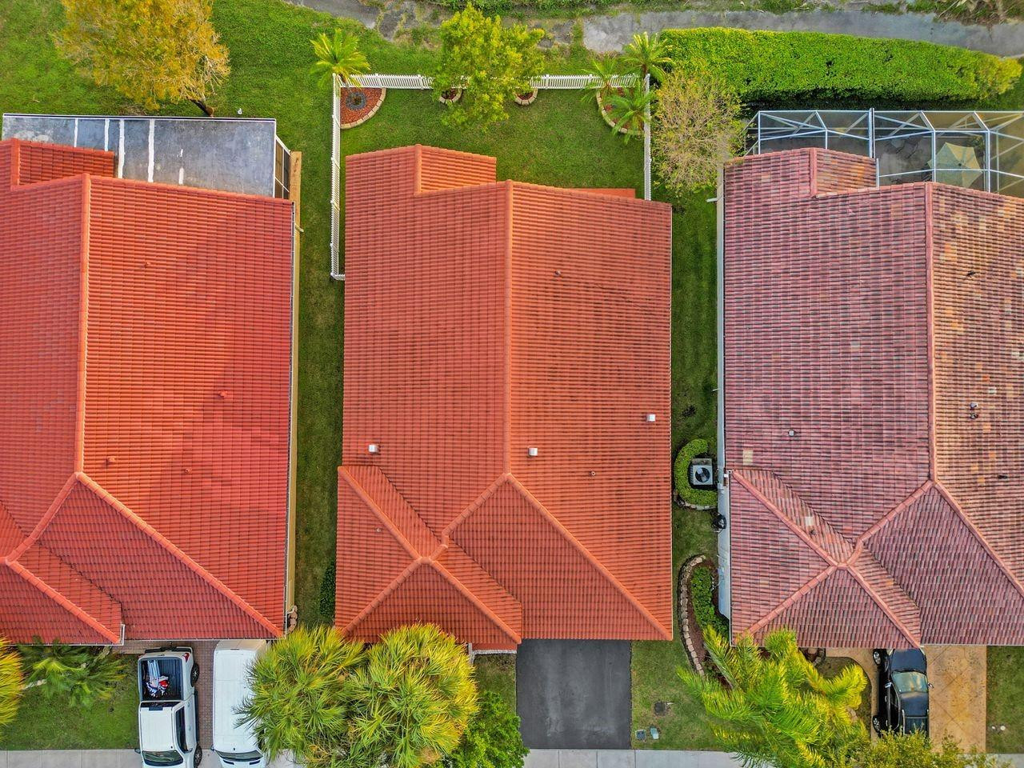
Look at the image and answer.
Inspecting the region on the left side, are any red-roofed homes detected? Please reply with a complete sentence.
Yes, a red-roofed home is visible on the left side.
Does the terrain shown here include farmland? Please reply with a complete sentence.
No, there's no farmland in this view.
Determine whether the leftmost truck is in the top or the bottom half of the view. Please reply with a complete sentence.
It is in the bottom half that the leftmost truck appears.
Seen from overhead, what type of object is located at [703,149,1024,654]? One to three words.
house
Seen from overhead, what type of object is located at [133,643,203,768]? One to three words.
truck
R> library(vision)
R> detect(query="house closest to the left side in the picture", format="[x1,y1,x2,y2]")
[0,138,312,644]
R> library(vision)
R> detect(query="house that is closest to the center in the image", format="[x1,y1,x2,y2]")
[332,142,674,646]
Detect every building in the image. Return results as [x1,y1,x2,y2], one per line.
[0,138,312,644]
[332,142,674,646]
[703,149,1024,654]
